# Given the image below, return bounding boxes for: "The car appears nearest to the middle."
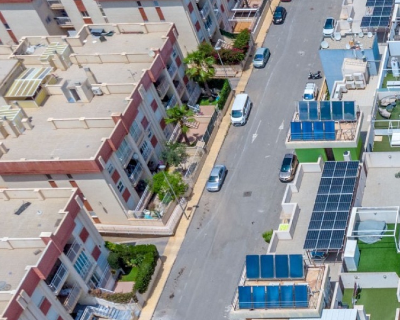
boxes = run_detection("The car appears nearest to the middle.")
[206,162,228,189]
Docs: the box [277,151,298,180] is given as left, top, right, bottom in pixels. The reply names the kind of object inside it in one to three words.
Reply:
car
